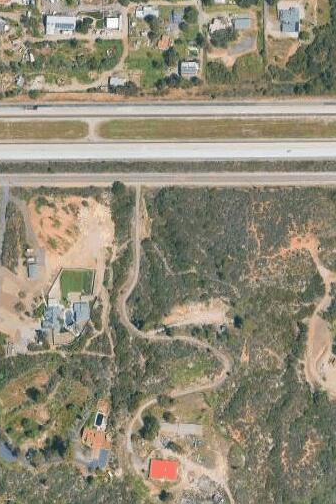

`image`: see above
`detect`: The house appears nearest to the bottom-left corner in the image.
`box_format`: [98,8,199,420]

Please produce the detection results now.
[83,430,111,455]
